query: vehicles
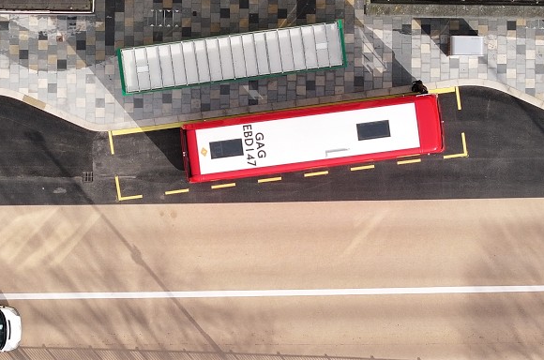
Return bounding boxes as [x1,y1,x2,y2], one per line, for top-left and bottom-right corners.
[175,91,447,183]
[0,301,22,351]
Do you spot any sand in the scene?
No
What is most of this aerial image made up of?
paved ground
